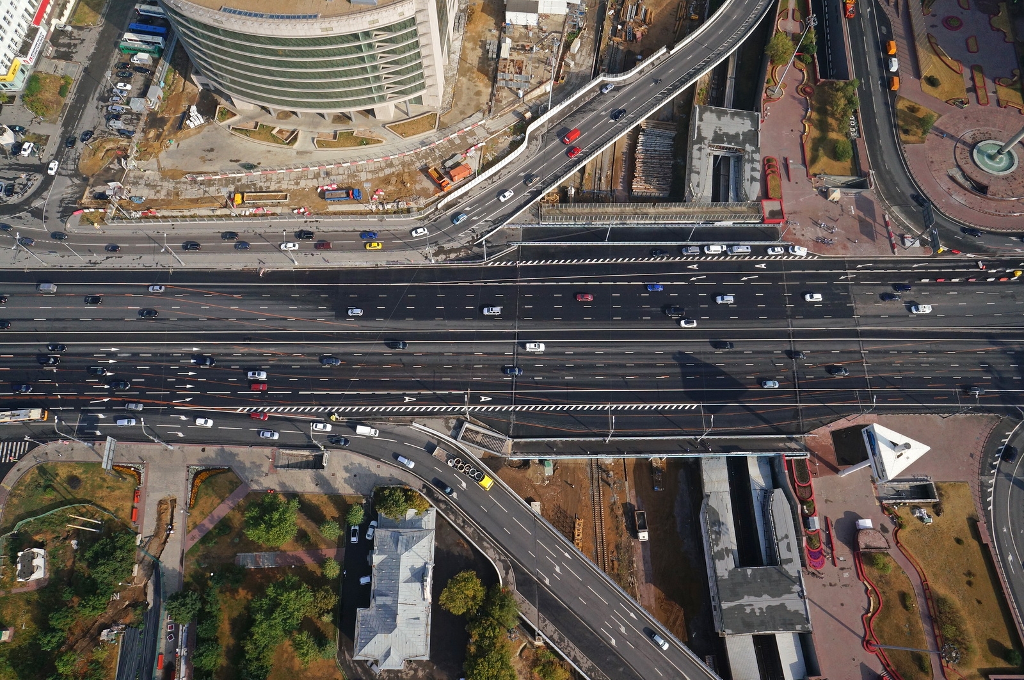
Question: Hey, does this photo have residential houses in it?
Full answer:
Yes, the frame does contain a residential house.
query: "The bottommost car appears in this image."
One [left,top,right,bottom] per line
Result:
[365,660,384,677]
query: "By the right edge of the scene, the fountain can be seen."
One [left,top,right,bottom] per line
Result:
[971,127,1024,176]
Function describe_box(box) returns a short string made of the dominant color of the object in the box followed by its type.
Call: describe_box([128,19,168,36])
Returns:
blue vehicle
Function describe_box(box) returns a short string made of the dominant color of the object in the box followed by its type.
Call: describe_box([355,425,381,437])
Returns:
white vehicle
